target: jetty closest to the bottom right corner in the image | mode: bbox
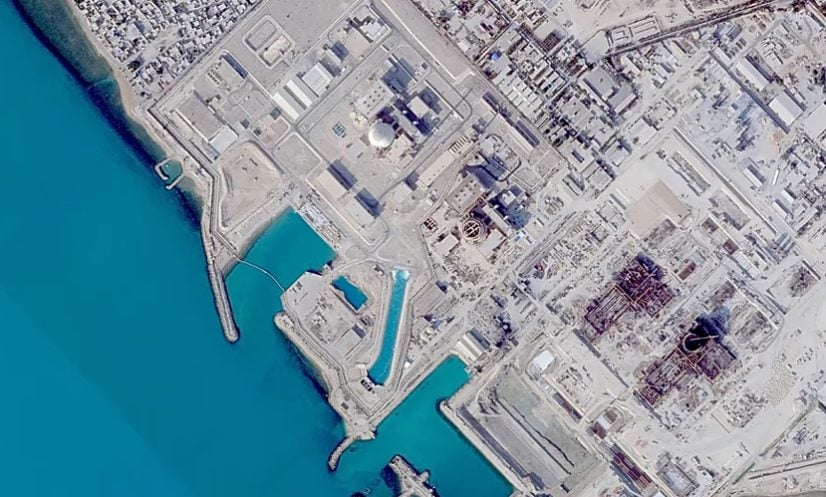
[390,455,437,497]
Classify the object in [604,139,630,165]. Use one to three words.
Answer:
house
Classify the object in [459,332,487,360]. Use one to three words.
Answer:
shed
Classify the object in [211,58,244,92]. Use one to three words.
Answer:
building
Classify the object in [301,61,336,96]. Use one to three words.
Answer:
hangar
